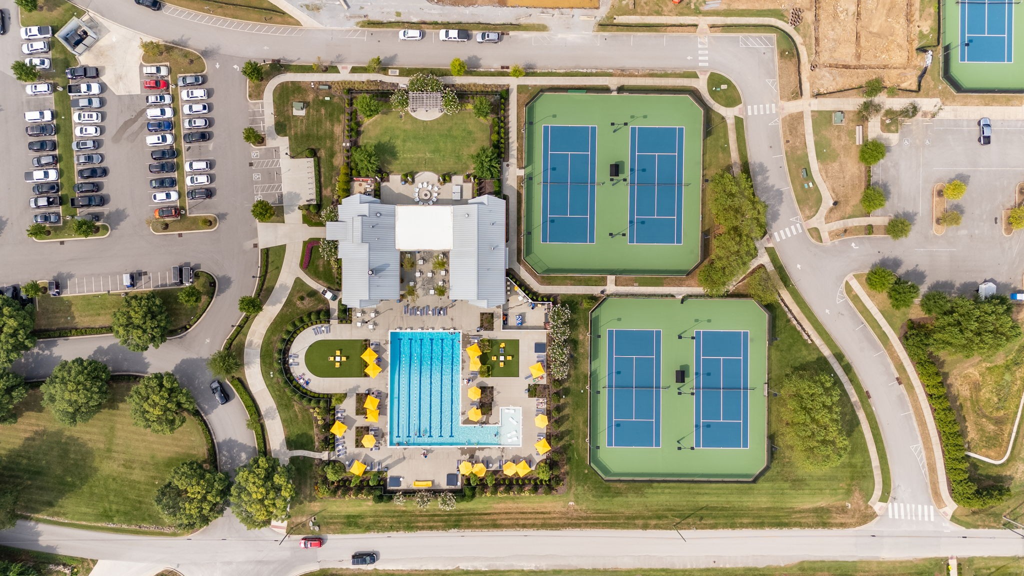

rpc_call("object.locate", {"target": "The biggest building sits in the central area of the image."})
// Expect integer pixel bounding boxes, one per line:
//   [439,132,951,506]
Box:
[322,194,508,308]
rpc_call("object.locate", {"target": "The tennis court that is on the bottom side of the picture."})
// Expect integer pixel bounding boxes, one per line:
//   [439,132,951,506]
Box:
[588,297,773,483]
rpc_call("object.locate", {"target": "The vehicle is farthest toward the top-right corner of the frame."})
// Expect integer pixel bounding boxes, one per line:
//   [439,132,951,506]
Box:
[977,118,992,146]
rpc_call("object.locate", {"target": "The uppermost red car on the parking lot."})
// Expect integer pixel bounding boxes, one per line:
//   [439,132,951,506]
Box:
[143,78,169,91]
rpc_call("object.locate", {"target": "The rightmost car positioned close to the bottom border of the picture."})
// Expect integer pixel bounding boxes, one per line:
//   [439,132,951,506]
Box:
[352,552,377,565]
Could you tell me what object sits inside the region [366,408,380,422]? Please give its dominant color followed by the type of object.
yellow umbrella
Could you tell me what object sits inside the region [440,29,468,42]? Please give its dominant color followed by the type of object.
white vehicle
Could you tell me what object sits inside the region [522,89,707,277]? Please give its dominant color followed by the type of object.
green tennis court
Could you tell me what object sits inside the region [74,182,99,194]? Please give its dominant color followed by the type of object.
gray vehicle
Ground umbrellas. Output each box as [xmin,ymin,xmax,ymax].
[330,419,348,437]
[468,386,481,400]
[535,438,551,455]
[363,394,381,410]
[364,361,382,379]
[366,408,380,422]
[361,434,377,448]
[467,357,483,370]
[459,461,473,475]
[350,458,368,477]
[535,414,548,428]
[465,342,482,358]
[528,362,545,379]
[472,463,486,476]
[360,347,379,365]
[503,462,516,476]
[468,407,482,422]
[516,460,532,477]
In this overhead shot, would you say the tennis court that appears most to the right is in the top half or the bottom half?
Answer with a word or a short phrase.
top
